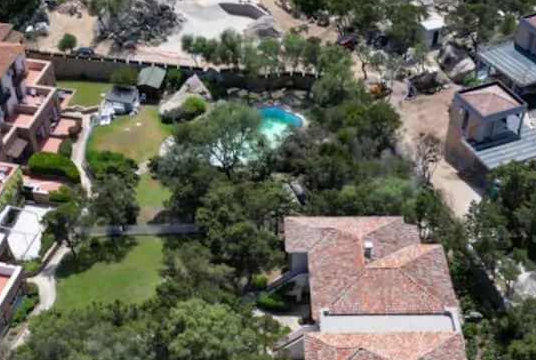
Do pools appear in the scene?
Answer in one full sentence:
Yes, a pool appears in the view.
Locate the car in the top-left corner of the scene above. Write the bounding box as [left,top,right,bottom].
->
[73,39,103,54]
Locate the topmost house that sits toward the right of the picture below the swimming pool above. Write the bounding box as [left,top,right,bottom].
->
[269,216,465,334]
